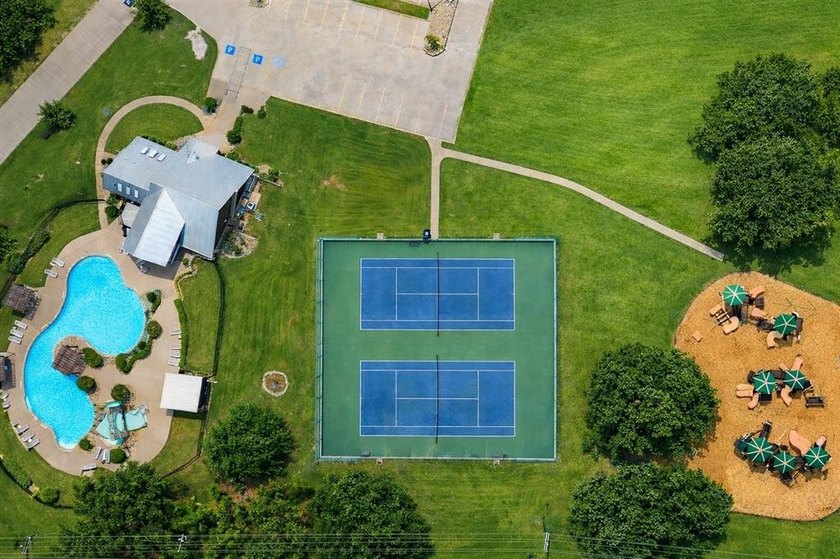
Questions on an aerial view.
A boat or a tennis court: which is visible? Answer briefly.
tennis court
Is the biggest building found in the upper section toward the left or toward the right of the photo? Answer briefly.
left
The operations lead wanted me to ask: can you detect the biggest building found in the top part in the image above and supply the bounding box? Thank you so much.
[103,135,254,267]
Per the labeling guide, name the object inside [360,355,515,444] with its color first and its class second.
blue tennis court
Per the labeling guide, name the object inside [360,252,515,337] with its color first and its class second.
blue tennis court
